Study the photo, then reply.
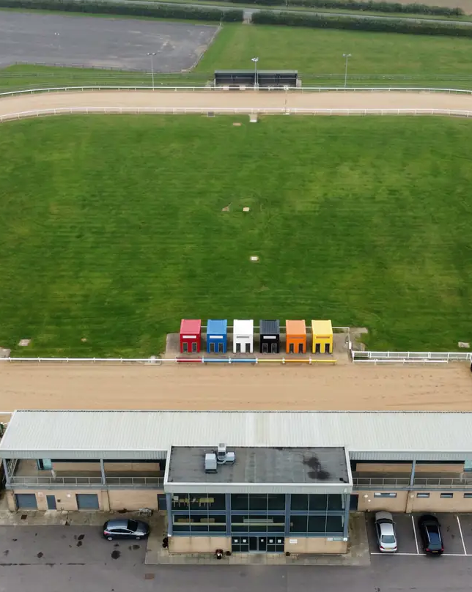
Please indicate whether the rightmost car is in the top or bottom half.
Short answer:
bottom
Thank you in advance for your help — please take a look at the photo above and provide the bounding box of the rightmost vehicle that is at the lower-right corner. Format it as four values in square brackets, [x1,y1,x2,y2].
[420,514,445,551]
